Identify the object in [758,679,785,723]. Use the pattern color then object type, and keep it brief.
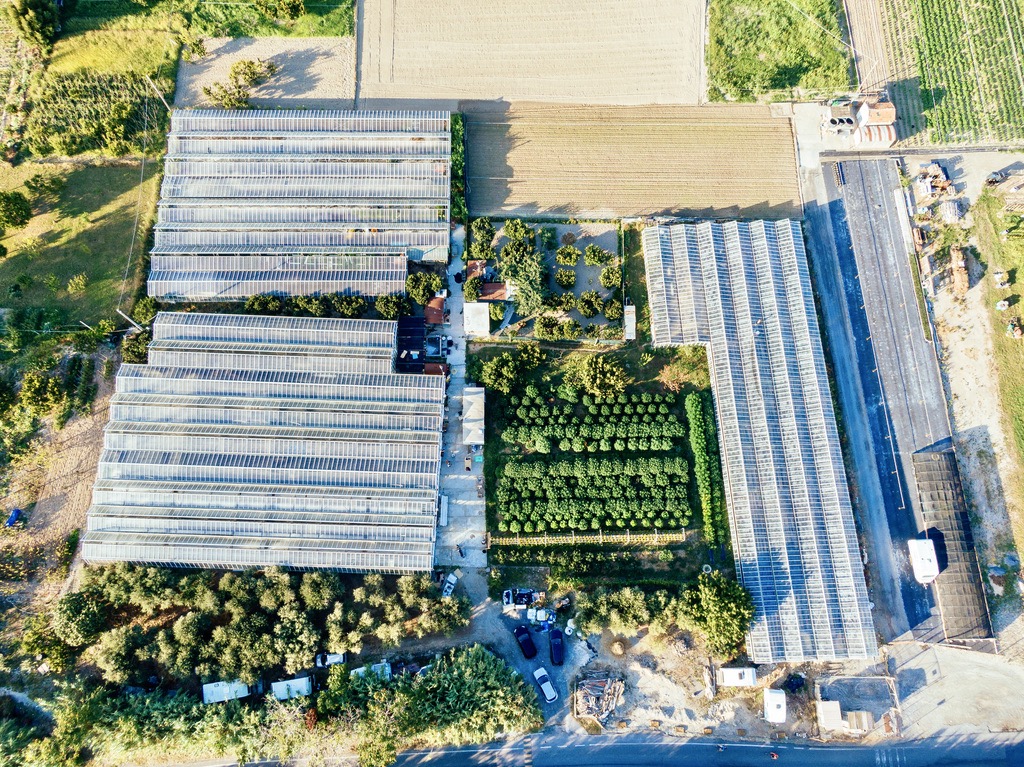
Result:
white camper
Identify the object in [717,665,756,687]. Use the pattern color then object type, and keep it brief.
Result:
white camper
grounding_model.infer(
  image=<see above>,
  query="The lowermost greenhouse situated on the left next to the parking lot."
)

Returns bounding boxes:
[80,312,447,571]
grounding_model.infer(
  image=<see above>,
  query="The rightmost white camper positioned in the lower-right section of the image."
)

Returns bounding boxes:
[905,540,942,593]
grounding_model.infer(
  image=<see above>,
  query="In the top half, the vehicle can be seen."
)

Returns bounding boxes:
[986,164,1010,186]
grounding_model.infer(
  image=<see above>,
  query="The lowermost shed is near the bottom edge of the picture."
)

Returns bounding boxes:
[814,699,841,729]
